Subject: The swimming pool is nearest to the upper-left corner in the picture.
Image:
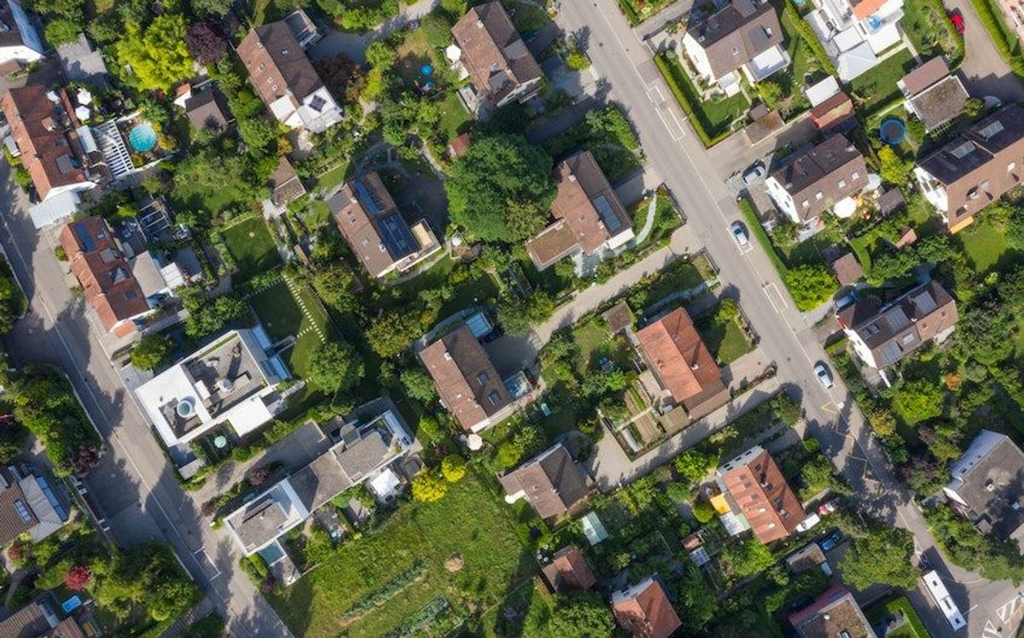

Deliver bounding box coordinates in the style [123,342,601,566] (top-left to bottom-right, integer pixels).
[127,121,160,151]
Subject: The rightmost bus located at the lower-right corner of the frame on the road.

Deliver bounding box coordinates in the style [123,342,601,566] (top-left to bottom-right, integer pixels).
[918,563,967,635]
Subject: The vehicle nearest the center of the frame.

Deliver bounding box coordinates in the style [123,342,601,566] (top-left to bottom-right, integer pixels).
[479,328,506,347]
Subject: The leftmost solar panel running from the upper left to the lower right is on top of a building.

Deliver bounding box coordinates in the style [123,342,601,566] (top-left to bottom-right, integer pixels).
[76,228,100,256]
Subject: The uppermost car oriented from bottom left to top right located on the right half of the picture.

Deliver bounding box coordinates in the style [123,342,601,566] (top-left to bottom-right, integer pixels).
[739,163,766,185]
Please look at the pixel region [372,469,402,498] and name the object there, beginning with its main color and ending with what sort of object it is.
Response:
white gazebo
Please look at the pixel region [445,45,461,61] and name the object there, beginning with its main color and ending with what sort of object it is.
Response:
white umbrella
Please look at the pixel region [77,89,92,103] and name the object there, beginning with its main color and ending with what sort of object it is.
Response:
white umbrella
